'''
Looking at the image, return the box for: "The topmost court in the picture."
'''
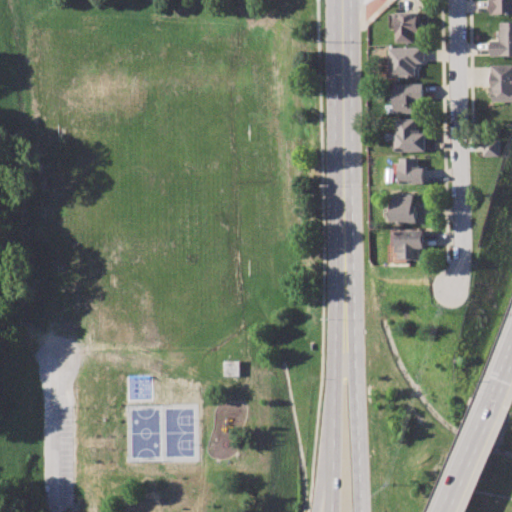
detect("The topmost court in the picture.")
[130,376,152,400]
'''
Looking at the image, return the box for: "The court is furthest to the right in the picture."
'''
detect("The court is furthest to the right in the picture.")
[166,410,194,457]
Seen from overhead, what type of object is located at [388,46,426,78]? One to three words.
house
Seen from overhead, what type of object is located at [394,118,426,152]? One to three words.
house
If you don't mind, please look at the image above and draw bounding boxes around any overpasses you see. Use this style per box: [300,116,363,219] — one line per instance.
[425,298,512,512]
